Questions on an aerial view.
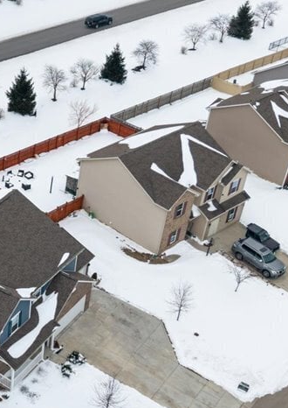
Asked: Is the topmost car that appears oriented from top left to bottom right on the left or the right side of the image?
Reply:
right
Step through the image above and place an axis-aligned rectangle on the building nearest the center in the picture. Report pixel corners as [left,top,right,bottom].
[74,117,257,254]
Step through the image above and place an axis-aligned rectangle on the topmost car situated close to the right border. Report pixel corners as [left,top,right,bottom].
[239,217,286,254]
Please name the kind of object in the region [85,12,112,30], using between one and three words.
car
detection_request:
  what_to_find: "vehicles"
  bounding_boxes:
[85,12,112,30]
[239,217,286,254]
[232,235,285,274]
